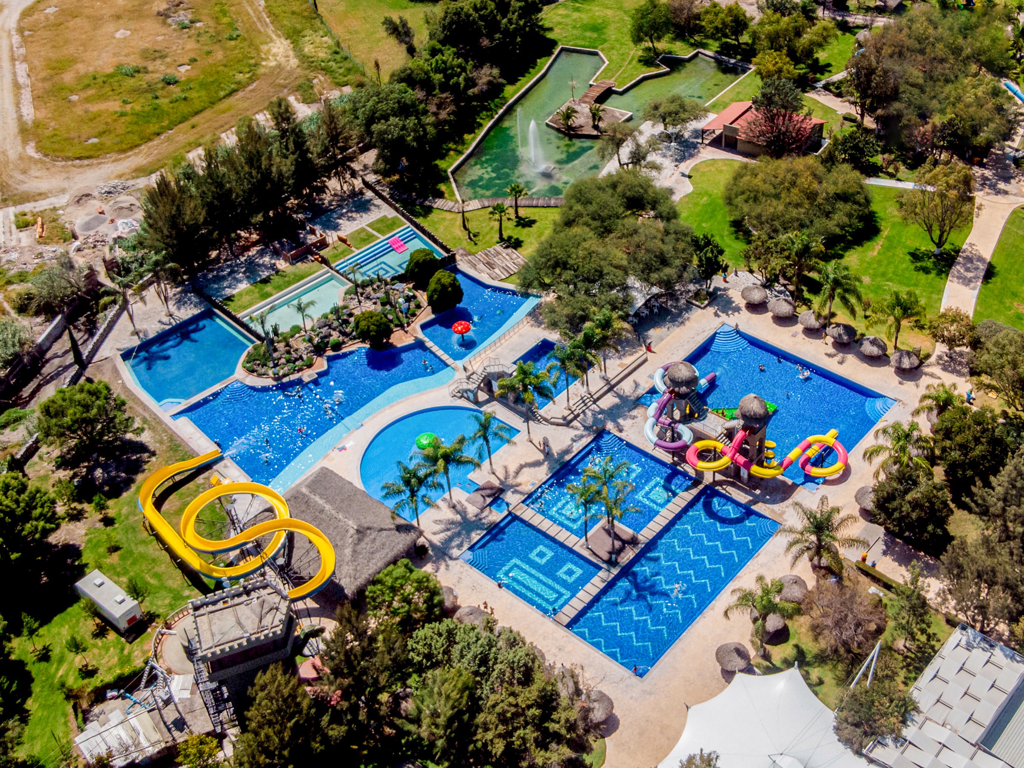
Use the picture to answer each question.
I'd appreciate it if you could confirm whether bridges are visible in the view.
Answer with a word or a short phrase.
Yes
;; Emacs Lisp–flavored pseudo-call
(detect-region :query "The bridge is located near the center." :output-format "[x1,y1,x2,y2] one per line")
[451,360,516,400]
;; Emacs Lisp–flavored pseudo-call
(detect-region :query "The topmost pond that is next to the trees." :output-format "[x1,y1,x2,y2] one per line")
[449,47,756,204]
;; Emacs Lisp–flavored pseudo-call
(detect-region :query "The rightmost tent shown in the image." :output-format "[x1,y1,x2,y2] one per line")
[647,658,871,768]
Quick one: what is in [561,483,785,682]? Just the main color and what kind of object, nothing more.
blue swimming pool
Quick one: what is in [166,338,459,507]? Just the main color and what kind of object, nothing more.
blue swimming pool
